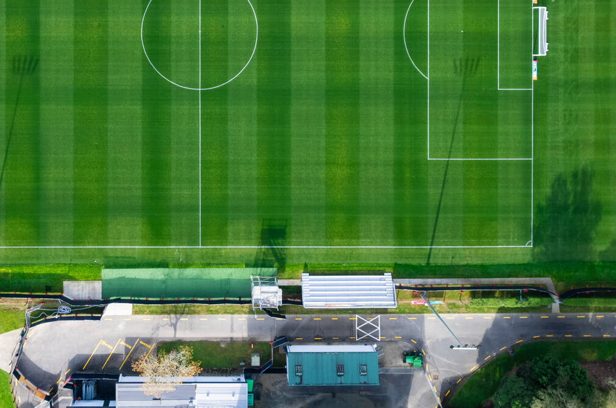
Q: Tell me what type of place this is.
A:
sports ground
